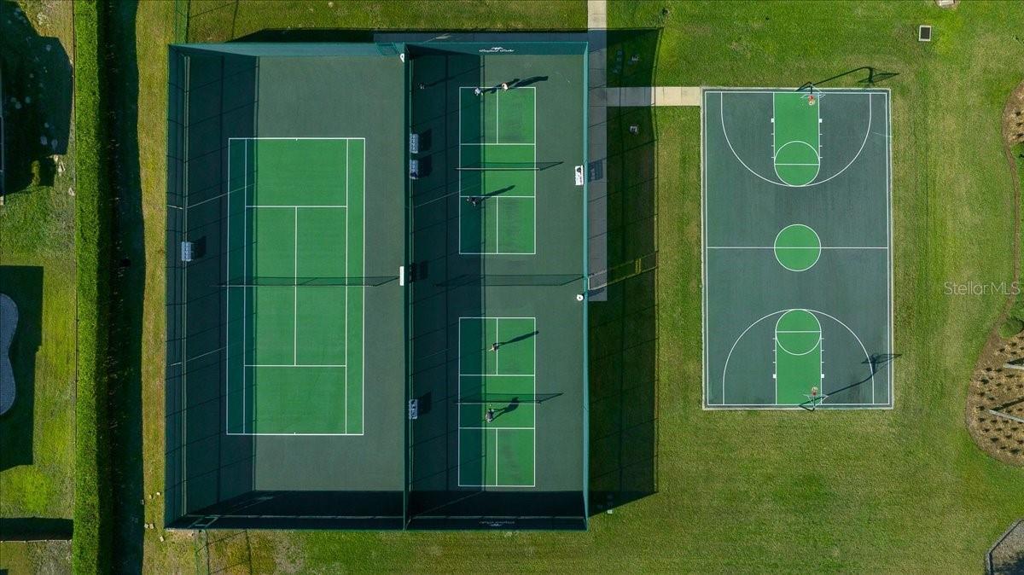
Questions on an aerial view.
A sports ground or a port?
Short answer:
sports ground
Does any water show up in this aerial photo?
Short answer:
No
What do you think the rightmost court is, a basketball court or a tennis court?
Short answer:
basketball court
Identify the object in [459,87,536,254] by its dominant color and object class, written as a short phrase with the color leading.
green sports court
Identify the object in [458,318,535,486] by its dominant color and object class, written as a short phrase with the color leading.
green sports court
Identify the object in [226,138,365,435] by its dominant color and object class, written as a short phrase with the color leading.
green tennis court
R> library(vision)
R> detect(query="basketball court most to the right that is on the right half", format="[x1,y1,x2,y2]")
[702,88,894,409]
